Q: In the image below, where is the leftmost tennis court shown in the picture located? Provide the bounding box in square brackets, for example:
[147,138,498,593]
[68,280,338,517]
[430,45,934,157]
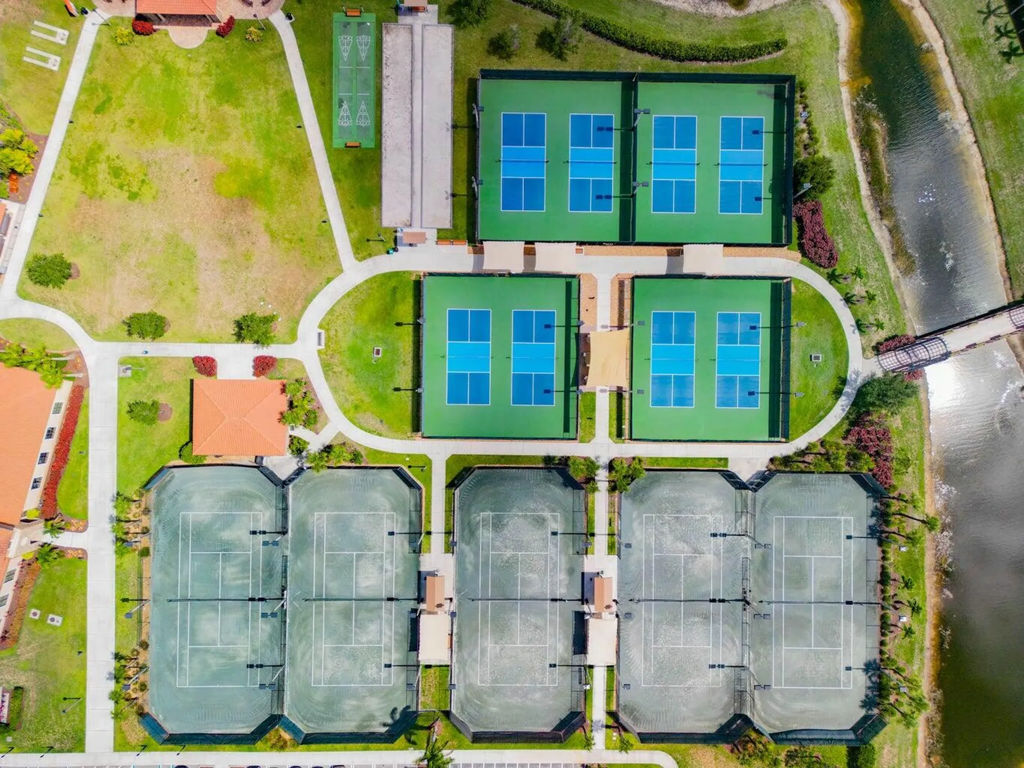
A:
[148,469,285,734]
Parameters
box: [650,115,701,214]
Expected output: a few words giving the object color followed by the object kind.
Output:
blue sports court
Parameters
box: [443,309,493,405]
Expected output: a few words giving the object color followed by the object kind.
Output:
blue sports court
